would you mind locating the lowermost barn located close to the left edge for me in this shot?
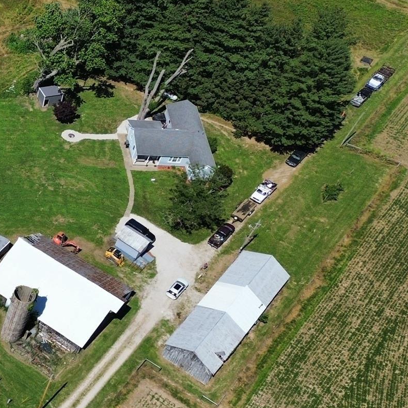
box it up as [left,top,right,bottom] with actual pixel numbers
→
[0,234,138,354]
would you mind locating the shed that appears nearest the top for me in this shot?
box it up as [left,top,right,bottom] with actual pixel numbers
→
[38,87,66,109]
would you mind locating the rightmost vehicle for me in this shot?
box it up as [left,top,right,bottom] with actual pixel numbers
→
[367,68,394,88]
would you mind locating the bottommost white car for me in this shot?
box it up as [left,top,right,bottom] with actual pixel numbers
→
[167,277,191,298]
